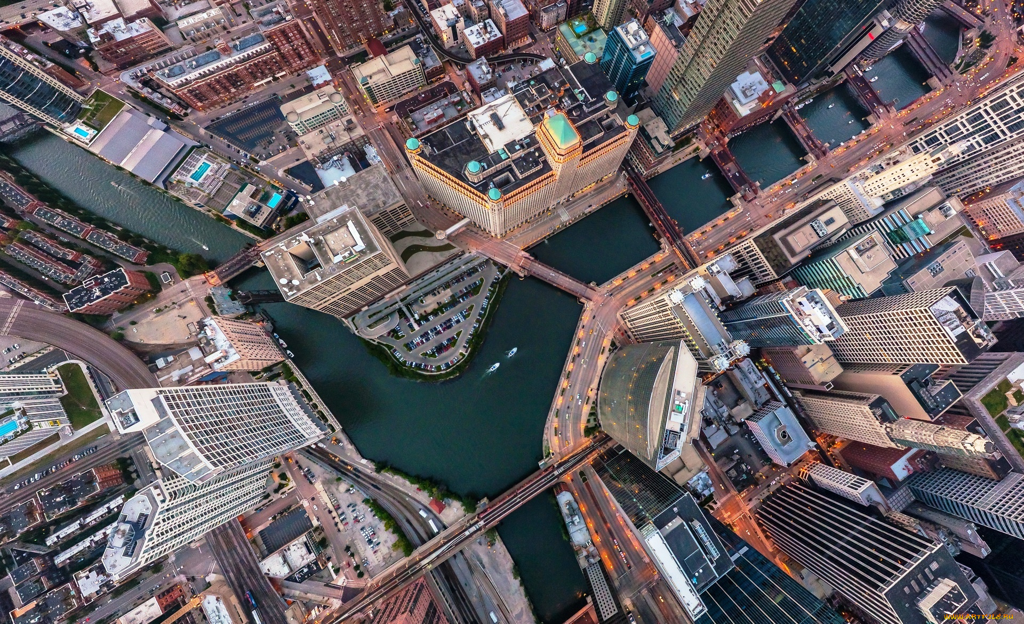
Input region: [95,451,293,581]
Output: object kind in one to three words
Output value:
building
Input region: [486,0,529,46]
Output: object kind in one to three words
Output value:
building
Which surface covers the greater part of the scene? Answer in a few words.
buildings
